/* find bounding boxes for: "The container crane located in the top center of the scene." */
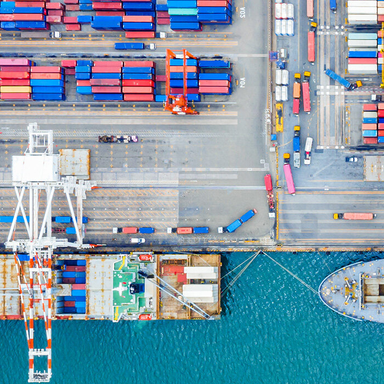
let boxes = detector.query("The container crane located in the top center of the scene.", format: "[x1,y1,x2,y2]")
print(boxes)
[166,47,201,118]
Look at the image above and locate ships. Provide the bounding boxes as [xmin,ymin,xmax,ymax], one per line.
[318,258,384,324]
[0,255,221,322]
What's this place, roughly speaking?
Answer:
port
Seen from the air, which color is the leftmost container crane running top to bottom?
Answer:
white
